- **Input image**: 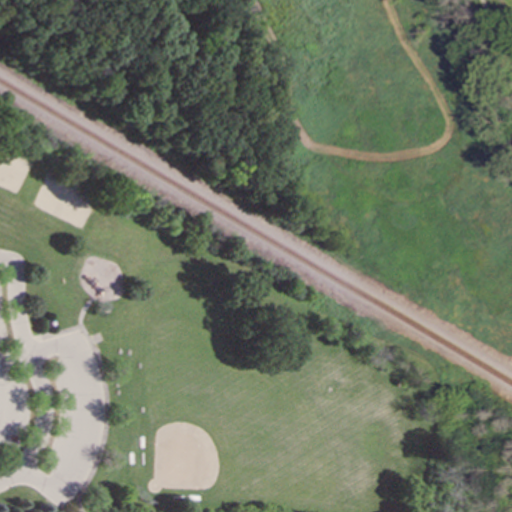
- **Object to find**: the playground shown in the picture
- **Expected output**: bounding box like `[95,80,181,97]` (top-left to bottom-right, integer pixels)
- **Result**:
[81,256,122,302]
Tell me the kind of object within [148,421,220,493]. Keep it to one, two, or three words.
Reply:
baseball field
